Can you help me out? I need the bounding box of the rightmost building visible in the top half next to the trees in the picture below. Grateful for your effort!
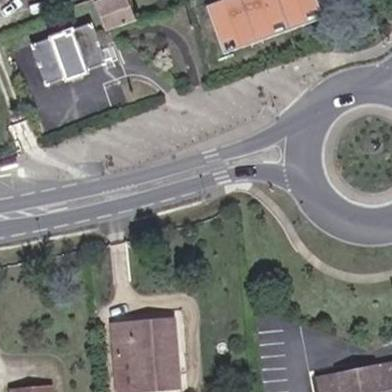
[206,0,322,54]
